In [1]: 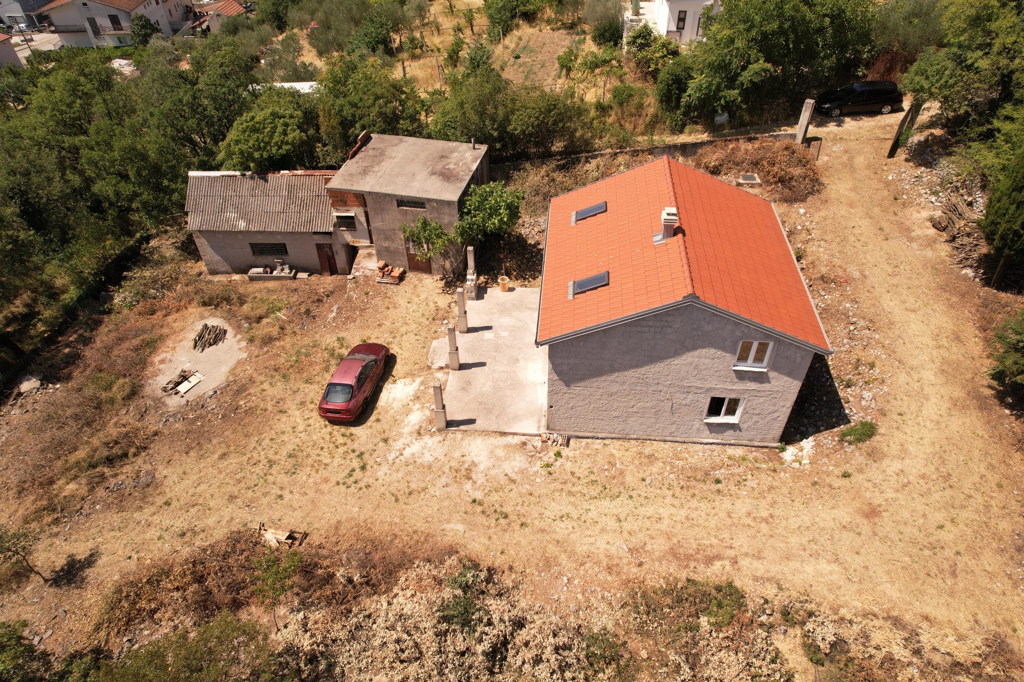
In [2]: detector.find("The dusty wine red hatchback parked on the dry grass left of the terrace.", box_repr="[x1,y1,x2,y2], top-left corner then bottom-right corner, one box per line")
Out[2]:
[318,341,391,424]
